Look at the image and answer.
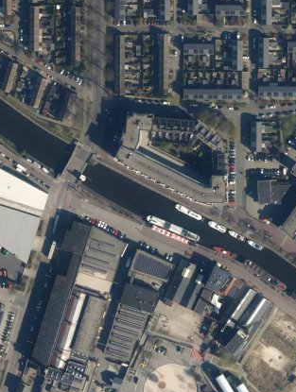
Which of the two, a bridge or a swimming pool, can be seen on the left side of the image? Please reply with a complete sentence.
You can see a bridge on the left side of the image.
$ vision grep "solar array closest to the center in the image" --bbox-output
[134,257,170,277]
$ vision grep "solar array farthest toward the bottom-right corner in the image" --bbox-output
[208,268,226,289]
